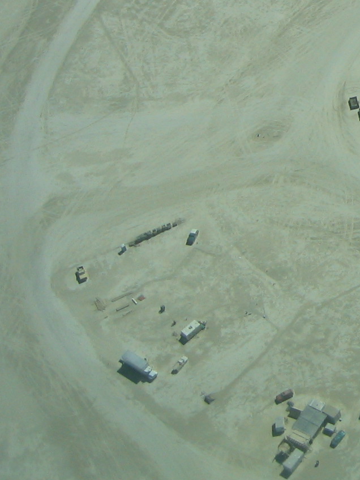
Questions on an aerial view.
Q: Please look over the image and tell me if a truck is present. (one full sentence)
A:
Yes, a truck appears in the view.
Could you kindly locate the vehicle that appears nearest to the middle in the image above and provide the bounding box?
[187,230,199,246]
